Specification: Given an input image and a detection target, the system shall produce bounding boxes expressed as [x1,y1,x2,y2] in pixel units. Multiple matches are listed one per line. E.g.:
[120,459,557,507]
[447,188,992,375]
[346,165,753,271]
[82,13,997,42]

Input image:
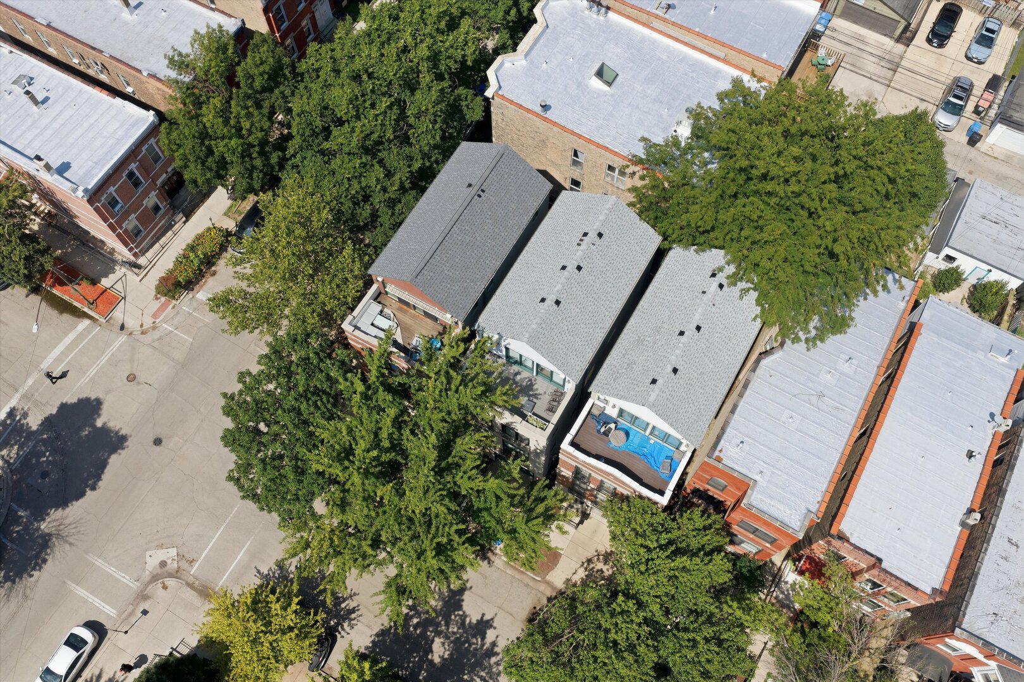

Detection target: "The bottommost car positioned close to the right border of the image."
[938,65,985,128]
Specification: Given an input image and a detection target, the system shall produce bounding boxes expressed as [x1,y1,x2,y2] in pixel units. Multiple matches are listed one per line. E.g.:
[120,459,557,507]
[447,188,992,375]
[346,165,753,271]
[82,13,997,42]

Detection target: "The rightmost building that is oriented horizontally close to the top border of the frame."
[835,0,923,38]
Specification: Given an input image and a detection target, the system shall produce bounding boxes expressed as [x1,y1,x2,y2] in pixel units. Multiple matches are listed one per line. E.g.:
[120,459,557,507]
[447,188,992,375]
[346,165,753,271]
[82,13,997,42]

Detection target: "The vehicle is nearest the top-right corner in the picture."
[969,5,1011,60]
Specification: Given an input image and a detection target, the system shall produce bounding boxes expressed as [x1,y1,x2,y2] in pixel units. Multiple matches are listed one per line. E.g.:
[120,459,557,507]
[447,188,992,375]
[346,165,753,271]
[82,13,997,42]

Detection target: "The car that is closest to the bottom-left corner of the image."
[28,622,100,682]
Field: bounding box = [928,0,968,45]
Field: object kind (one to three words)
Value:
car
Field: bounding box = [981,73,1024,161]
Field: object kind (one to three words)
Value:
building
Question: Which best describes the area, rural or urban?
urban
